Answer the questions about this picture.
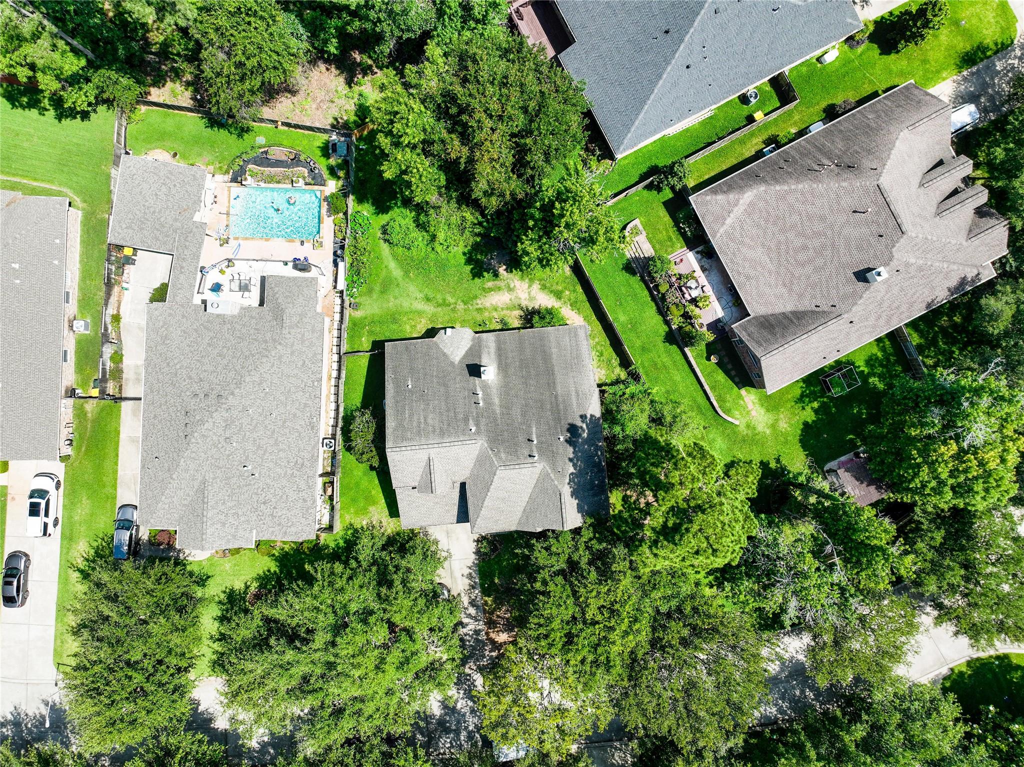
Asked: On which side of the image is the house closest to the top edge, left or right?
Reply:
right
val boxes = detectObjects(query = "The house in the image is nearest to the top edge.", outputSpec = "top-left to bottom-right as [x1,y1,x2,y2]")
[548,0,865,162]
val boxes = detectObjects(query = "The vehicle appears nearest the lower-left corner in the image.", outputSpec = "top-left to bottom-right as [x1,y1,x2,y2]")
[0,548,32,612]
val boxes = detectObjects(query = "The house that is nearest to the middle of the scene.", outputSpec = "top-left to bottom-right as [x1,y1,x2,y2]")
[384,324,612,534]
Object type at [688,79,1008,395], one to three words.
house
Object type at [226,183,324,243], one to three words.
swimming pool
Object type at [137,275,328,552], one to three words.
house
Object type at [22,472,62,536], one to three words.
car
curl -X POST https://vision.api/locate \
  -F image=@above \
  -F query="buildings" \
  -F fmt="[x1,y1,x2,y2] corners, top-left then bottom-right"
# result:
[548,0,865,162]
[0,191,87,463]
[688,79,1008,395]
[137,275,328,552]
[384,324,612,534]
